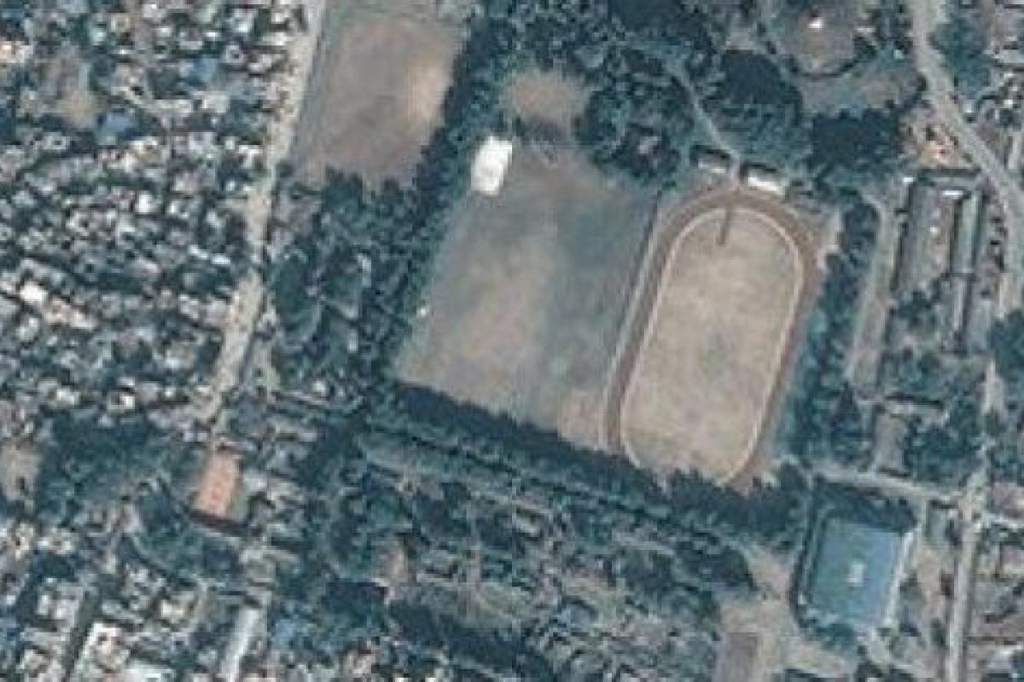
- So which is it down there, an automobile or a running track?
running track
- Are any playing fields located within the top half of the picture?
Yes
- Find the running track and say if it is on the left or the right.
right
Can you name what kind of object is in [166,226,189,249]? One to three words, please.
house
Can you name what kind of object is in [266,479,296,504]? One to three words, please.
house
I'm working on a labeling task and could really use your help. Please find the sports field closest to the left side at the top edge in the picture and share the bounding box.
[295,0,470,184]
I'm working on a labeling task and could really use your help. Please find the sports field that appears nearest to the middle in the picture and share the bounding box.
[399,136,656,450]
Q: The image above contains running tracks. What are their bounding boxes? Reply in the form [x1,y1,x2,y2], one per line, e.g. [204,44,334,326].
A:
[601,184,820,508]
